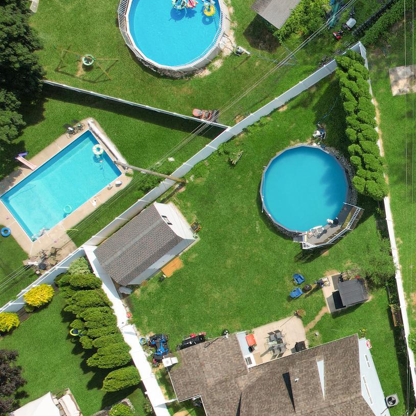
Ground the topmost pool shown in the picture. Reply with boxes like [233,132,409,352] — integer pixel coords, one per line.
[125,0,232,74]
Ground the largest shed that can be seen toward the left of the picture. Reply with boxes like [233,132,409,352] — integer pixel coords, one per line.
[94,203,196,287]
